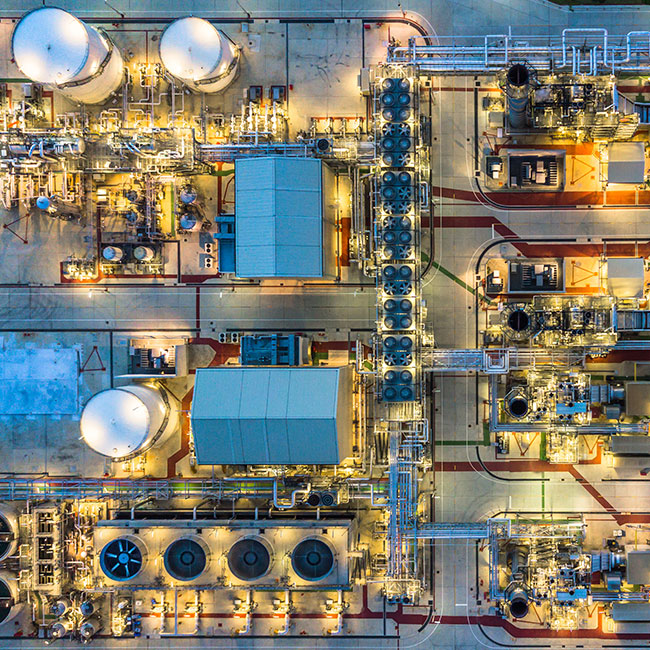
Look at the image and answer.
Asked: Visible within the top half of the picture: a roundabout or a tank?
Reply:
tank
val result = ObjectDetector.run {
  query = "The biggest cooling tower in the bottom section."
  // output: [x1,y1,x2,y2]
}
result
[90,493,372,590]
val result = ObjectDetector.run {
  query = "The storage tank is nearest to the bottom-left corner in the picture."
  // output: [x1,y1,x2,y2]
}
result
[78,383,180,462]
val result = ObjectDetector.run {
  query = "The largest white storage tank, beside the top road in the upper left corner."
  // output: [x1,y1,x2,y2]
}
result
[9,5,125,106]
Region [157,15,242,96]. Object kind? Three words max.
storage tank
